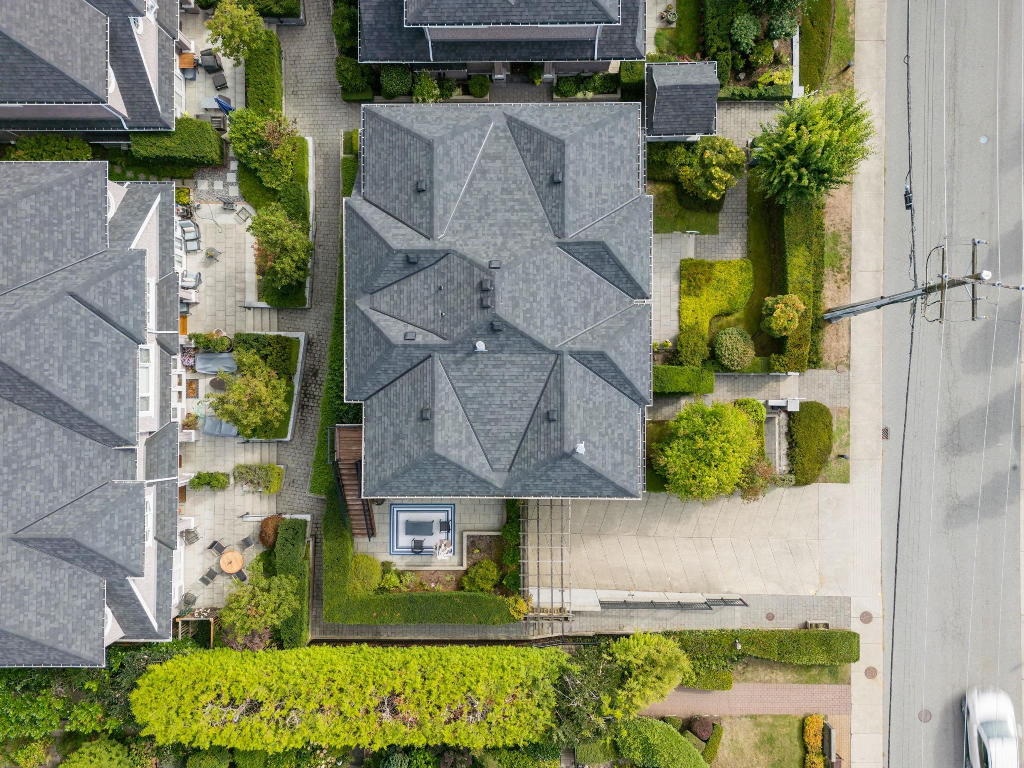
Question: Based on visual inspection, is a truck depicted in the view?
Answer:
No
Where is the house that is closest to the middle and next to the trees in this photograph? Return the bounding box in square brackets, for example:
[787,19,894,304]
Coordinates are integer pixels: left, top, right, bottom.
[344,102,653,499]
